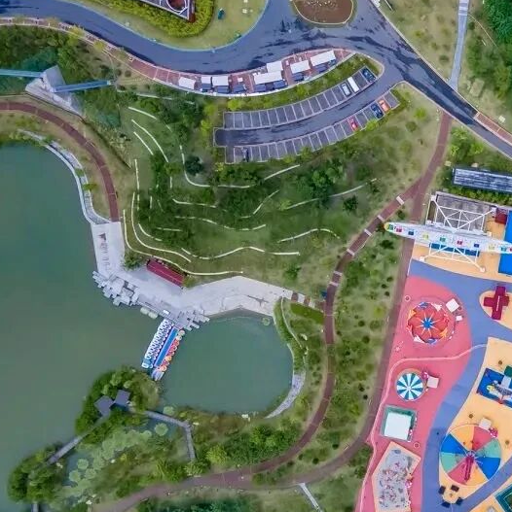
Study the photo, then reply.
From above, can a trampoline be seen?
Yes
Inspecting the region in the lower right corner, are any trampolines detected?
Yes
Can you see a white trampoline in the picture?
Yes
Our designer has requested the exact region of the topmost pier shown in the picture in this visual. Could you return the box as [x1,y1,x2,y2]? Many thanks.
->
[155,326,181,368]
